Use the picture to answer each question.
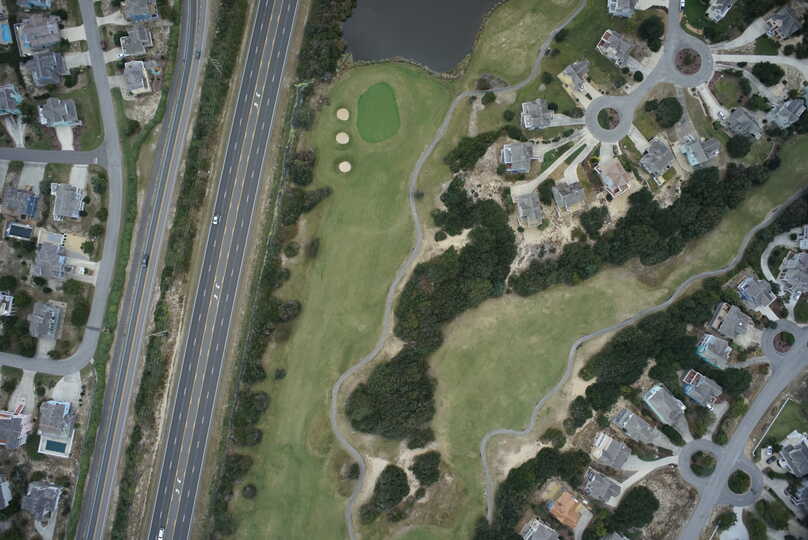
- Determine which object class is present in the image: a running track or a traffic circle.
traffic circle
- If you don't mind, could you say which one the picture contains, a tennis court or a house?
house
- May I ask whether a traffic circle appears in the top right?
Yes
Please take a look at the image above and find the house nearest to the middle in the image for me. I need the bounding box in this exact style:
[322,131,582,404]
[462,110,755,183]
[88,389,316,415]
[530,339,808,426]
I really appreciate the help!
[517,192,544,231]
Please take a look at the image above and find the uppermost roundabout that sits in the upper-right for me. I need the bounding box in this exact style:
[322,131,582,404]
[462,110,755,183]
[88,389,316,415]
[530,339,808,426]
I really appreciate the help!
[664,36,713,85]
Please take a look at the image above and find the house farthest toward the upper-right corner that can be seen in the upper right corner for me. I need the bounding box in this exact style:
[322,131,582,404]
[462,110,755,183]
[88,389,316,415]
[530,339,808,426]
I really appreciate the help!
[765,3,808,42]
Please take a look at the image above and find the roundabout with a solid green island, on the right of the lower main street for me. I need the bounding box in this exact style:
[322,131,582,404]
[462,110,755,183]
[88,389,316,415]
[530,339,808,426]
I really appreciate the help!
[715,458,763,506]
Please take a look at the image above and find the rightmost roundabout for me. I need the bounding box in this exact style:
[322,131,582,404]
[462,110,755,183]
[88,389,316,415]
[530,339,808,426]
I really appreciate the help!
[761,319,806,363]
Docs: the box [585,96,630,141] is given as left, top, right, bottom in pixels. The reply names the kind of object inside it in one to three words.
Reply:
roundabout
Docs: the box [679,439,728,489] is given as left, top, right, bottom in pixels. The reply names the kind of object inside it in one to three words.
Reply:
roundabout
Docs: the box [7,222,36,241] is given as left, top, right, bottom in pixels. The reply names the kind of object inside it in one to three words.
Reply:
swimming pool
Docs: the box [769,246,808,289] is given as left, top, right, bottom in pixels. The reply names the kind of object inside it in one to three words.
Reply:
house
